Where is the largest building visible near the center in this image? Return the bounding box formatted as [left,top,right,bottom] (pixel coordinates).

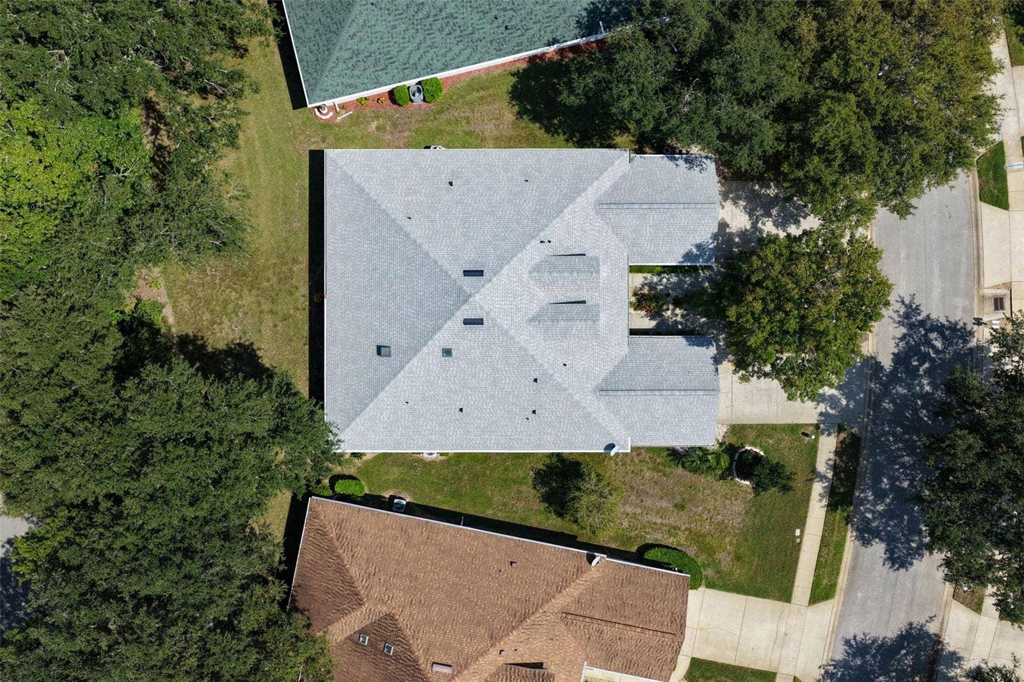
[324,147,722,455]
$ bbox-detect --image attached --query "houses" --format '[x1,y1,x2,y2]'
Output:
[324,147,722,455]
[281,0,686,109]
[277,496,691,682]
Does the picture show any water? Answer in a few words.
No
